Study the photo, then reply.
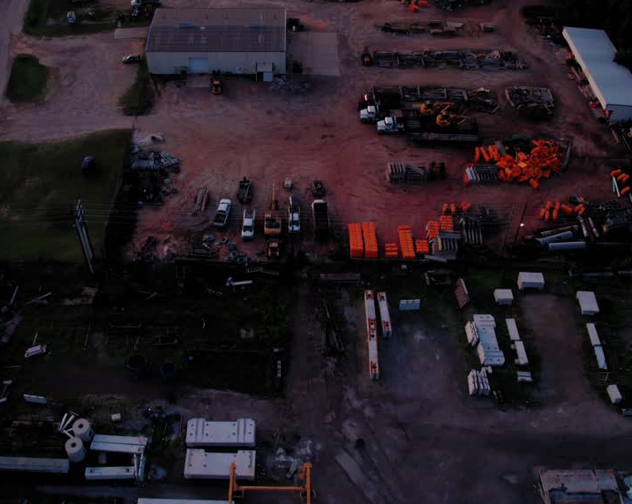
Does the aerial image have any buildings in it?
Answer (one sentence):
Yes, there's a building here.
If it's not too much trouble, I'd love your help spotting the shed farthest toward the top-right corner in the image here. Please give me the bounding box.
[555,29,632,125]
